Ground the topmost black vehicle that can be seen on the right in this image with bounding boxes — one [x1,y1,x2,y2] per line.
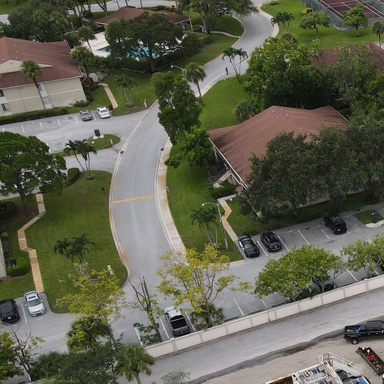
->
[324,213,345,231]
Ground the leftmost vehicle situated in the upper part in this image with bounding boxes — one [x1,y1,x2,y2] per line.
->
[78,106,93,118]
